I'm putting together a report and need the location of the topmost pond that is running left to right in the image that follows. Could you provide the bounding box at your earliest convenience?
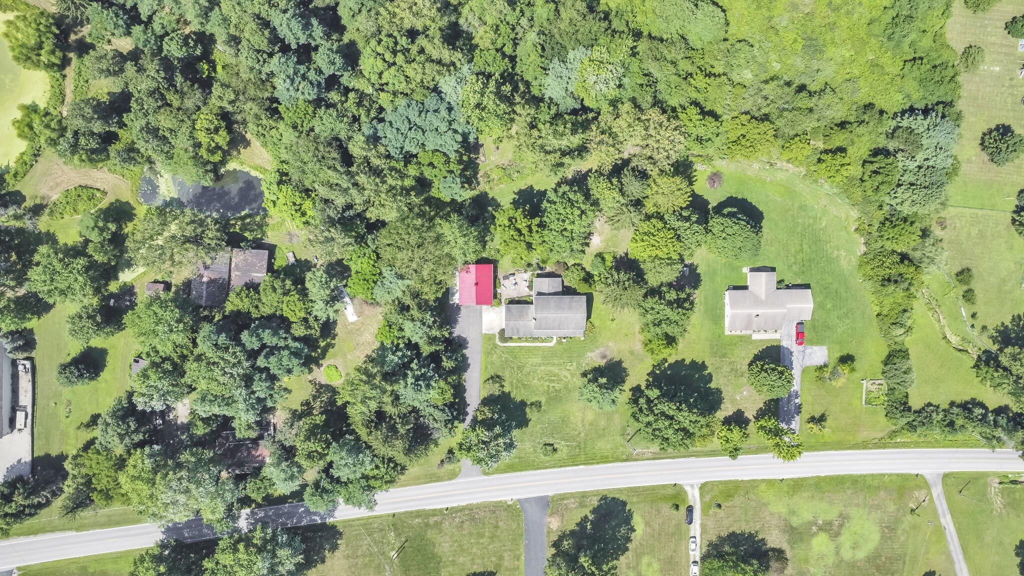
[139,162,266,226]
